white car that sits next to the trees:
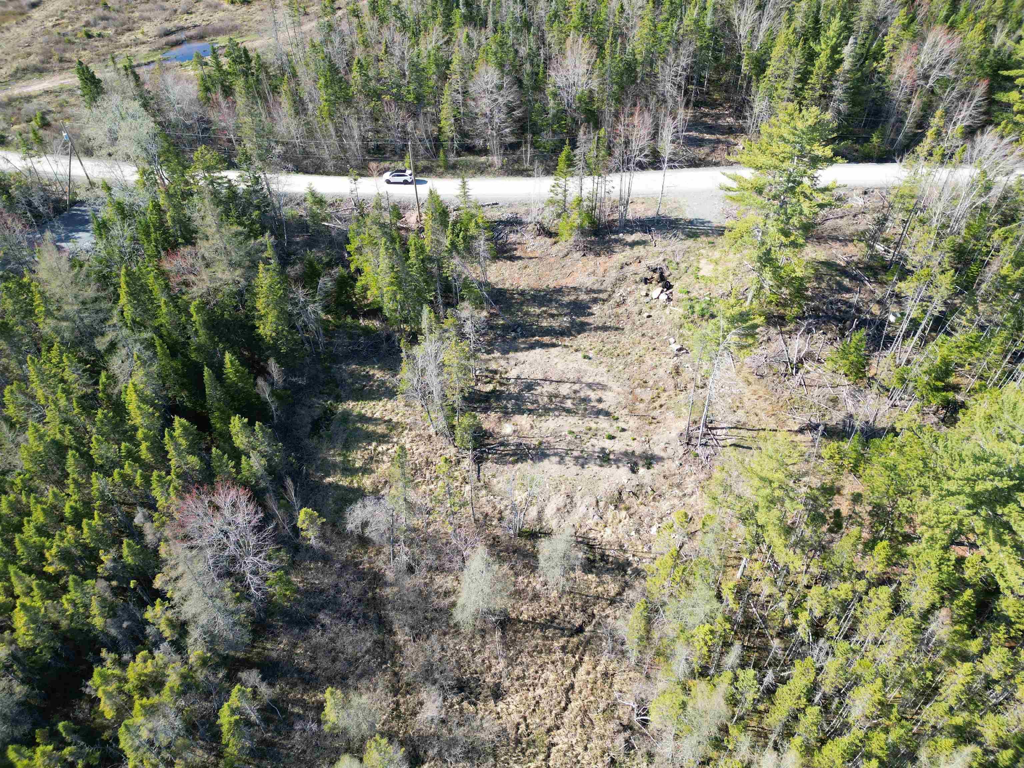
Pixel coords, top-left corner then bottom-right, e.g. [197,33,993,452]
[383,167,414,182]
